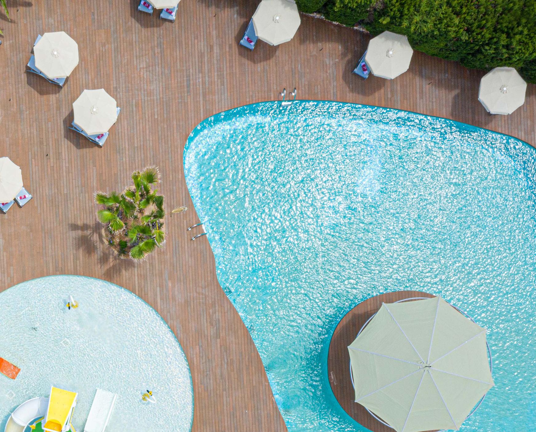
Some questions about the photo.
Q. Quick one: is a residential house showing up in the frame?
No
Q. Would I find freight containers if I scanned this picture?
No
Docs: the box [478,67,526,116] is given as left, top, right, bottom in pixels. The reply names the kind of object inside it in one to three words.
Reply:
umbrella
